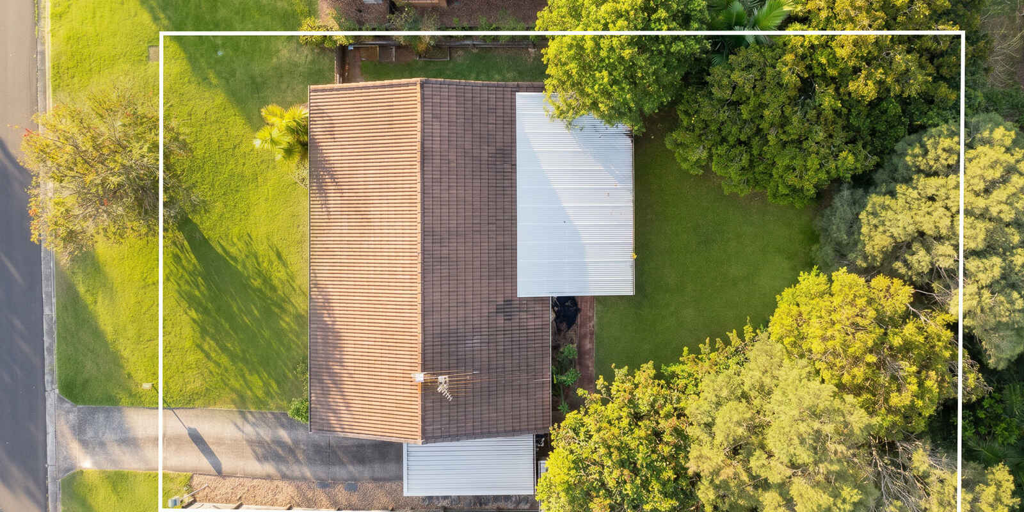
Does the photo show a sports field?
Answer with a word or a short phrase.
No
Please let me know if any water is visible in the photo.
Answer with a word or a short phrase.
No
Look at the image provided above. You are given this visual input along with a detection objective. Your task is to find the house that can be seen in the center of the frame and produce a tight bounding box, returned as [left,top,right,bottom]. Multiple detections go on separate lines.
[306,78,554,445]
